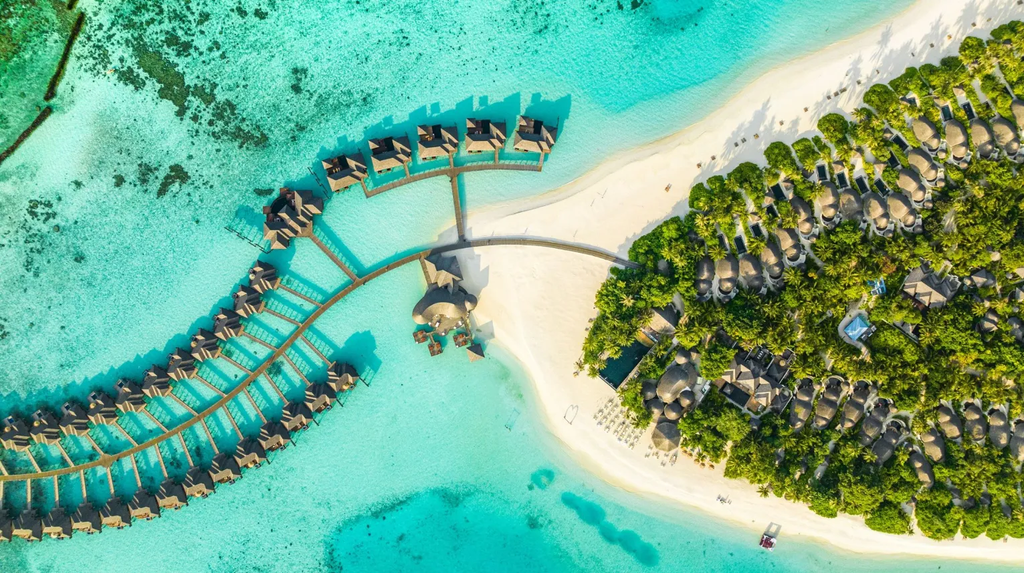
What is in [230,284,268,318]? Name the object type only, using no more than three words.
house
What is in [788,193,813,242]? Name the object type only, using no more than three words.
house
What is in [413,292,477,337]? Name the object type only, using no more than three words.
building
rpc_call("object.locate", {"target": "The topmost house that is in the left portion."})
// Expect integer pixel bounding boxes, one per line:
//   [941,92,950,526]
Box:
[264,188,325,249]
